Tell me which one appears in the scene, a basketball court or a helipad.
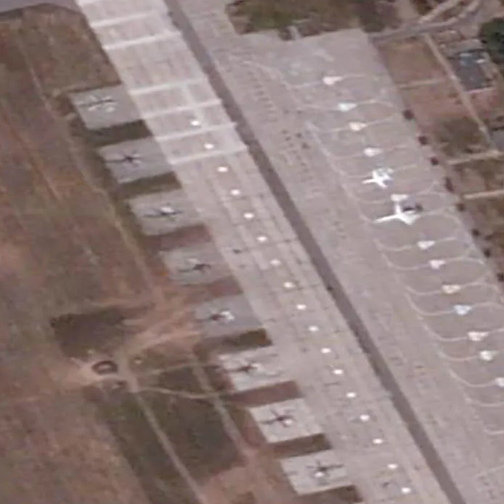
helipad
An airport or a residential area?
airport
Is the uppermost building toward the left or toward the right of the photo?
right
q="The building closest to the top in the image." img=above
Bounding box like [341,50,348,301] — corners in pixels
[450,49,492,94]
